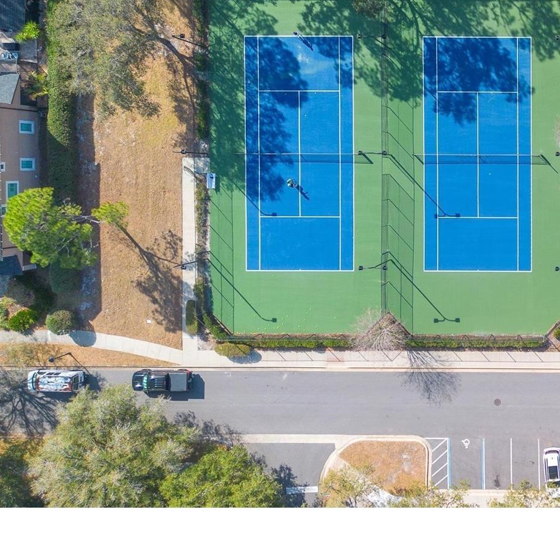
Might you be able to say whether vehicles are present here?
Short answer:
Yes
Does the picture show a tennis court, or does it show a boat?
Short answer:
tennis court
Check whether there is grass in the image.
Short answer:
Yes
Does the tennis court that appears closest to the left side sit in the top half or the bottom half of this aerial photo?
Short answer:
top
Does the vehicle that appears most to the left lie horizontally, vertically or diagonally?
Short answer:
horizontally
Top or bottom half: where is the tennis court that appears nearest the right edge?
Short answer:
top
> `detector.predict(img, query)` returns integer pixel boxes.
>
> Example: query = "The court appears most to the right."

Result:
[389,0,560,336]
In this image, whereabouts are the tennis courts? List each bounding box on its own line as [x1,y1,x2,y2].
[209,0,390,336]
[389,0,560,336]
